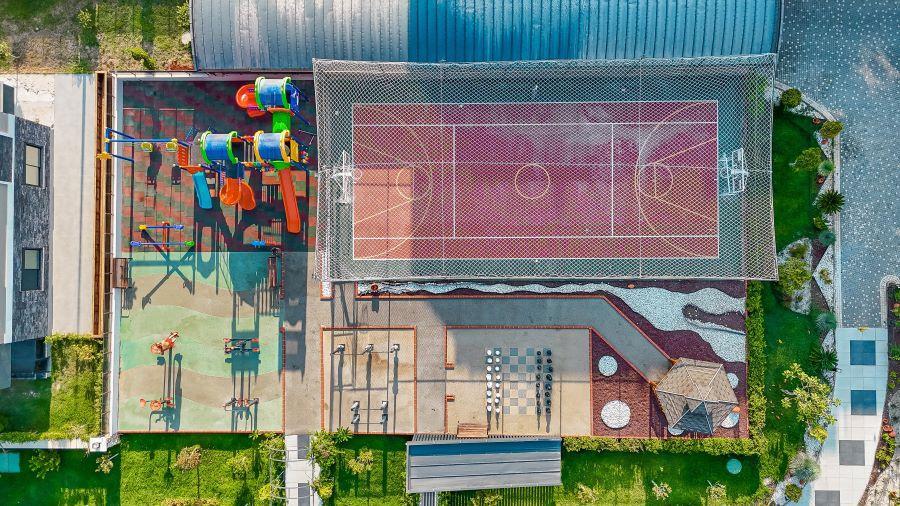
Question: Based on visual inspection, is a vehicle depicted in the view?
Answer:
No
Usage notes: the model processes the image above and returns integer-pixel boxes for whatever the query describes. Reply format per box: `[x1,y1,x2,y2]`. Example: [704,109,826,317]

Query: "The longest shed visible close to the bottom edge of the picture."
[406,429,562,490]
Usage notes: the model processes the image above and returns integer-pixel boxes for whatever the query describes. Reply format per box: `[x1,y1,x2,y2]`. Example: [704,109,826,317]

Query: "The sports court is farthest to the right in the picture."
[329,79,745,280]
